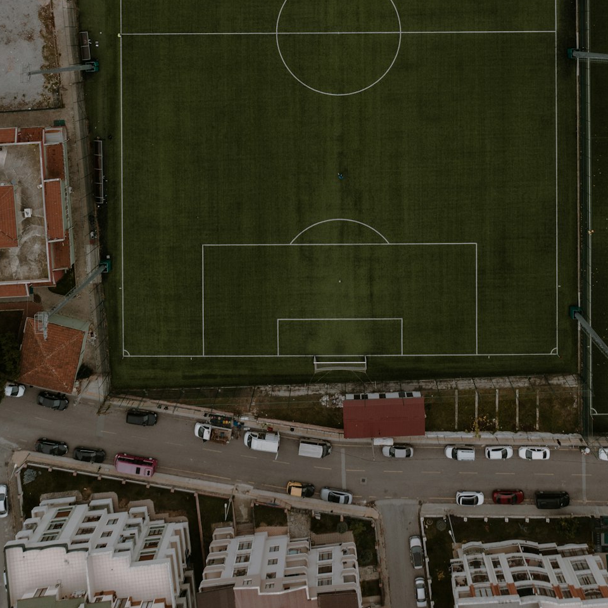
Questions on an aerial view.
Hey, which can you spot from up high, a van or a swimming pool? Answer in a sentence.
Looking from above, you can make out a van.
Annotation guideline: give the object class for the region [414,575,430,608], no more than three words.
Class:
car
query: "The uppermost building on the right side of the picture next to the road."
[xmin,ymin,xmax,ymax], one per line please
[344,390,425,438]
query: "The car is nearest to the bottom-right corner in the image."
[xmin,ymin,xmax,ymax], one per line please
[534,490,570,510]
